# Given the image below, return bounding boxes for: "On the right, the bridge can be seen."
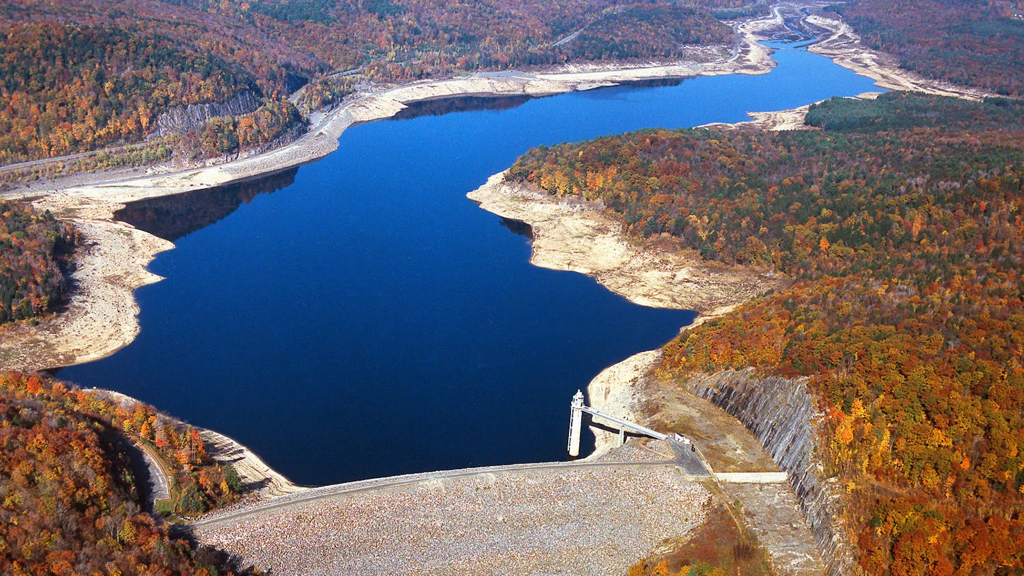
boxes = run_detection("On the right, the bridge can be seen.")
[581,412,671,454]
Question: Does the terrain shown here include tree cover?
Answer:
Yes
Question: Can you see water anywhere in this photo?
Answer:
Yes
